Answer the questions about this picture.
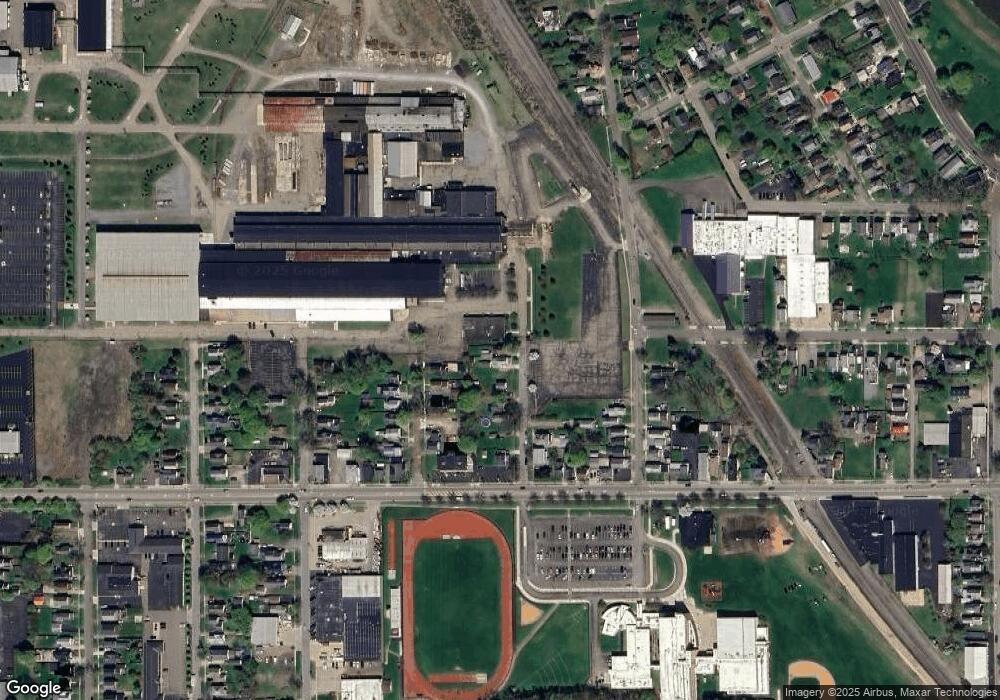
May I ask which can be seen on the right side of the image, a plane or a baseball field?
baseball field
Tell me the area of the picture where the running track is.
bottom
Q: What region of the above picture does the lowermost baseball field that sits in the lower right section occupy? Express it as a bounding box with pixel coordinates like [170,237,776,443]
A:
[784,660,836,700]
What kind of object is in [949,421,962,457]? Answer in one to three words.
building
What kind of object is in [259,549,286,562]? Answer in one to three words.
house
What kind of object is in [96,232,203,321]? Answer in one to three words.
building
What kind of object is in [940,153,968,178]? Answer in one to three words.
house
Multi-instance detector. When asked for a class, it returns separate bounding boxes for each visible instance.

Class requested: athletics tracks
[402,511,513,700]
